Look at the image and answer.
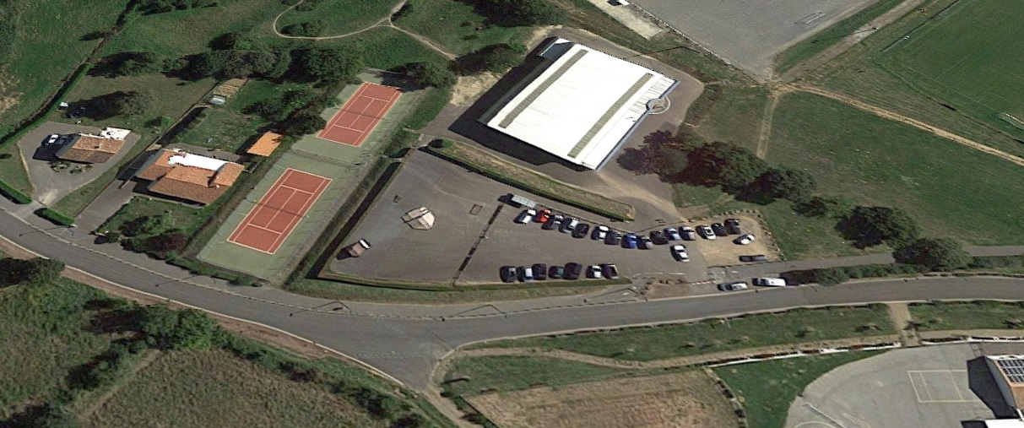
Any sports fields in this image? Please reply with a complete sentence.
Yes, the frame does contain a sports field.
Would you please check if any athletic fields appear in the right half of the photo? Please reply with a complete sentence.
Yes, an athletic field shows up in the right half of the photo.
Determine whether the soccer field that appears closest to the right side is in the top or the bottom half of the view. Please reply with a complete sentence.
Seen from above, the soccer field that appears closest to the right side lies in the top half of the view.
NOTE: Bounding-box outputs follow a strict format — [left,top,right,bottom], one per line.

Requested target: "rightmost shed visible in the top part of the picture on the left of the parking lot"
[247,133,284,160]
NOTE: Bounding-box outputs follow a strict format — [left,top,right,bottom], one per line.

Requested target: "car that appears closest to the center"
[519,206,536,223]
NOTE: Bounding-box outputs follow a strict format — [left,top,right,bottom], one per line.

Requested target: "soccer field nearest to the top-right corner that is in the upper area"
[880,0,1024,124]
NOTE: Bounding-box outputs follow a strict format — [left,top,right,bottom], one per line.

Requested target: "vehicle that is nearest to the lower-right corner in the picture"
[756,275,785,288]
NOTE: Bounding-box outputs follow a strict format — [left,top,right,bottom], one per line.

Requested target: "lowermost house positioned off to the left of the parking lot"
[134,150,245,207]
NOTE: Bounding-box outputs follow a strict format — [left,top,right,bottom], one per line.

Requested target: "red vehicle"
[538,206,552,224]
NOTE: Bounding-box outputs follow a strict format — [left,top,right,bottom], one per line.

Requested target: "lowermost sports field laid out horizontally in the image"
[670,87,1024,260]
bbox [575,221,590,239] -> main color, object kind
black car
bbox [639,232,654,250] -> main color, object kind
gray car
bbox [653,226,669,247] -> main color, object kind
black car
